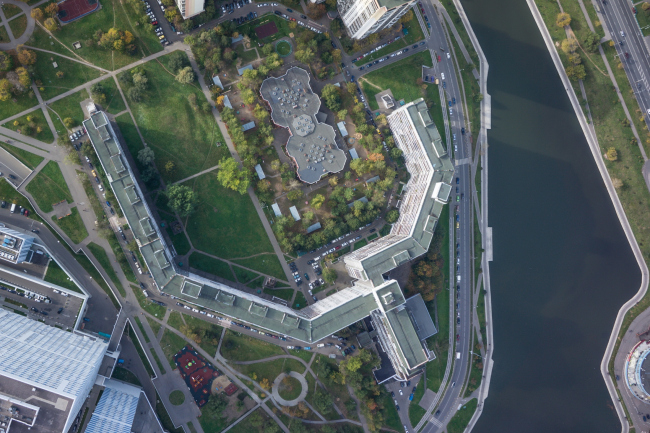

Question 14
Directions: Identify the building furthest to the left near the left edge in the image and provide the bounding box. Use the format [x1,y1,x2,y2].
[0,227,34,265]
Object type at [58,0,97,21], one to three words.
sports court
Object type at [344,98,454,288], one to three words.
building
